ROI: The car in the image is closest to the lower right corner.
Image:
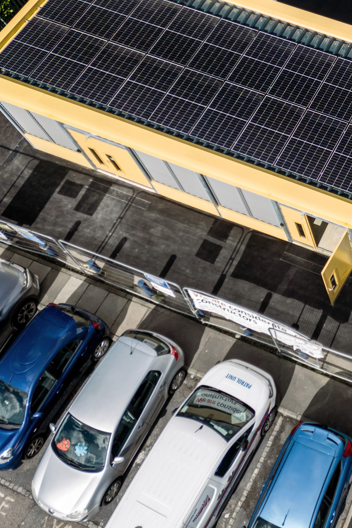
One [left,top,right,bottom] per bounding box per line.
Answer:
[242,418,352,528]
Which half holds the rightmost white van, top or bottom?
bottom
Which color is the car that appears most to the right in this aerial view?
blue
